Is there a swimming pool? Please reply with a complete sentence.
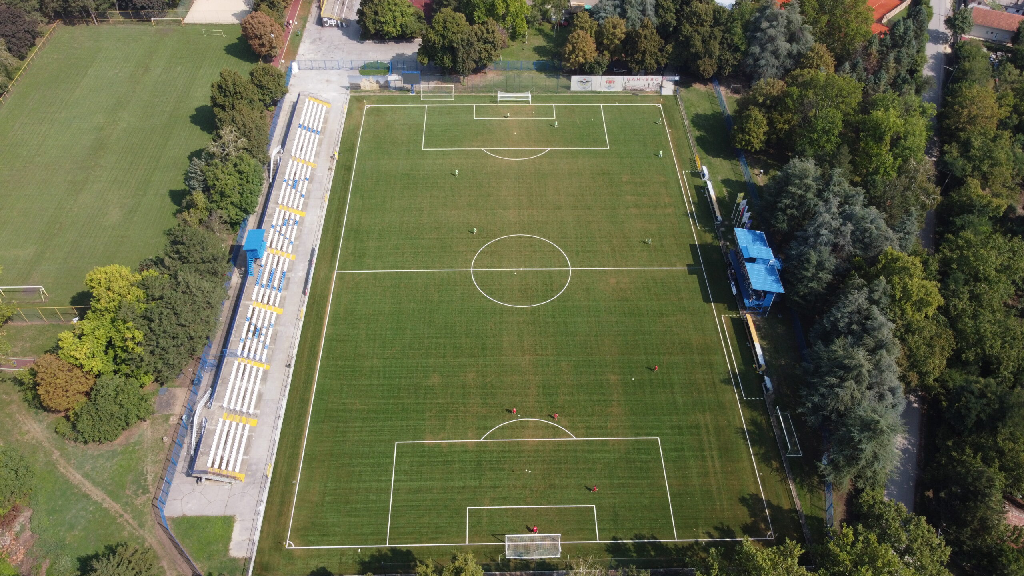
No, I can see no swimming pool in this picture.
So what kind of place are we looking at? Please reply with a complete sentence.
It's a sports ground.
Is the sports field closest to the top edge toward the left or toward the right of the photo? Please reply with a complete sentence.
The sports field closest to the top edge appears in the left half of the scene.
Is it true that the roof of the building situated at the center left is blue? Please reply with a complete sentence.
Yes, the roof of the building situated at the center left is indeed blue.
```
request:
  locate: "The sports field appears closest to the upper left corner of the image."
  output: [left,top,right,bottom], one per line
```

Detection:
[0,25,259,313]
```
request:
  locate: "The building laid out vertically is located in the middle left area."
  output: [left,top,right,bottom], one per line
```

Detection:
[242,229,267,287]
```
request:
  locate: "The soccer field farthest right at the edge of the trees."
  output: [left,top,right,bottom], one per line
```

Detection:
[250,94,813,575]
